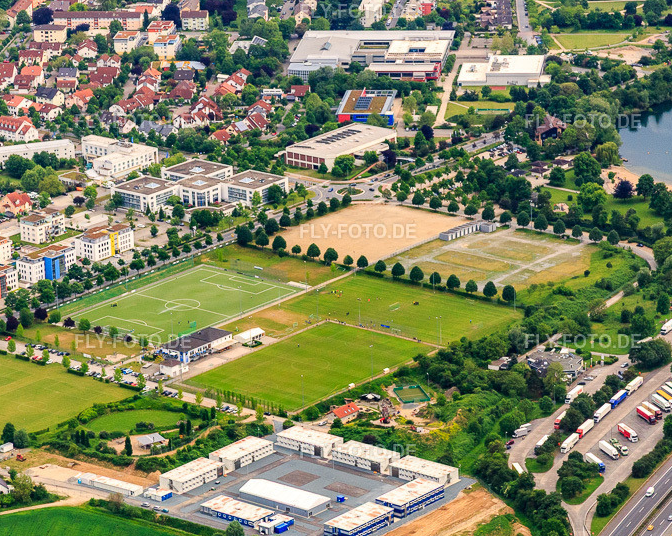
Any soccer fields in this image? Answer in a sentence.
Yes, there is a soccer field in the image.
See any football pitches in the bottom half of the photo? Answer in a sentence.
Yes, I can see a football pitch in the bottom half of the photo.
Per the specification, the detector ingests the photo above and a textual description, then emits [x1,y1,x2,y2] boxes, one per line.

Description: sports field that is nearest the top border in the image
[281,203,467,262]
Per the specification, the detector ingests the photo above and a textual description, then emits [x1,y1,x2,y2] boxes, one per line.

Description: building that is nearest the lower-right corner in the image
[529,349,583,378]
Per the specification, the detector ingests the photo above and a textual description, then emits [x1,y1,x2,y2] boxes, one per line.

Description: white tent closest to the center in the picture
[235,328,266,344]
